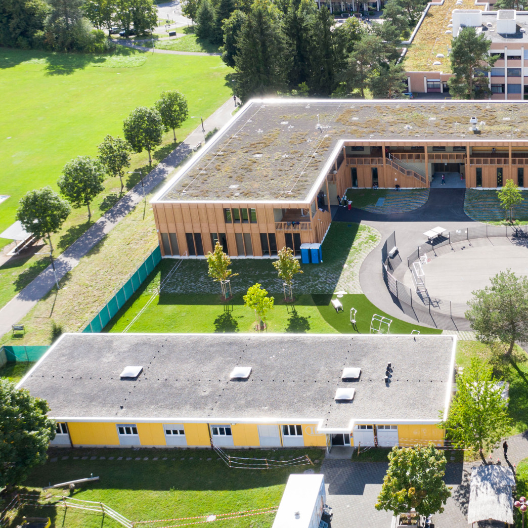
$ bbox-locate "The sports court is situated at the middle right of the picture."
[403,237,528,318]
